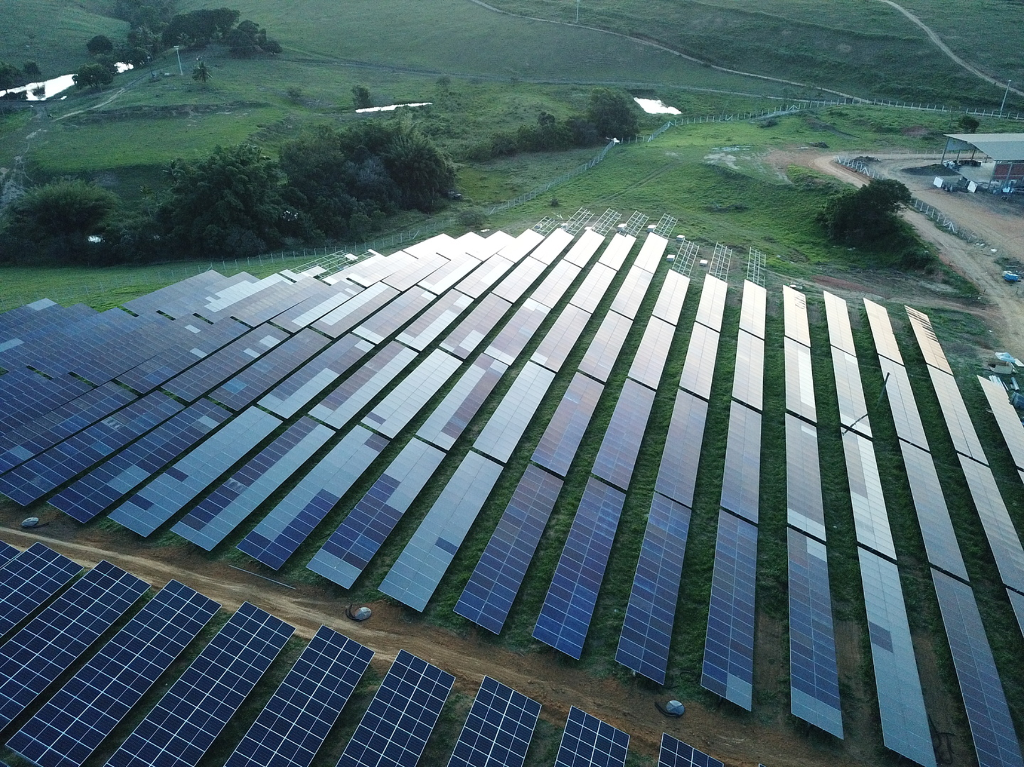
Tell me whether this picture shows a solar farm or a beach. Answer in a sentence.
This looks like a solar farm.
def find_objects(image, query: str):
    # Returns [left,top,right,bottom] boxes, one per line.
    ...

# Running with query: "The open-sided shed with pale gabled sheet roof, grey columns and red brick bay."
[938,137,1024,189]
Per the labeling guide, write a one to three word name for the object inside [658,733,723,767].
solar array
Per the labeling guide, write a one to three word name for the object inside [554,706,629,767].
solar array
